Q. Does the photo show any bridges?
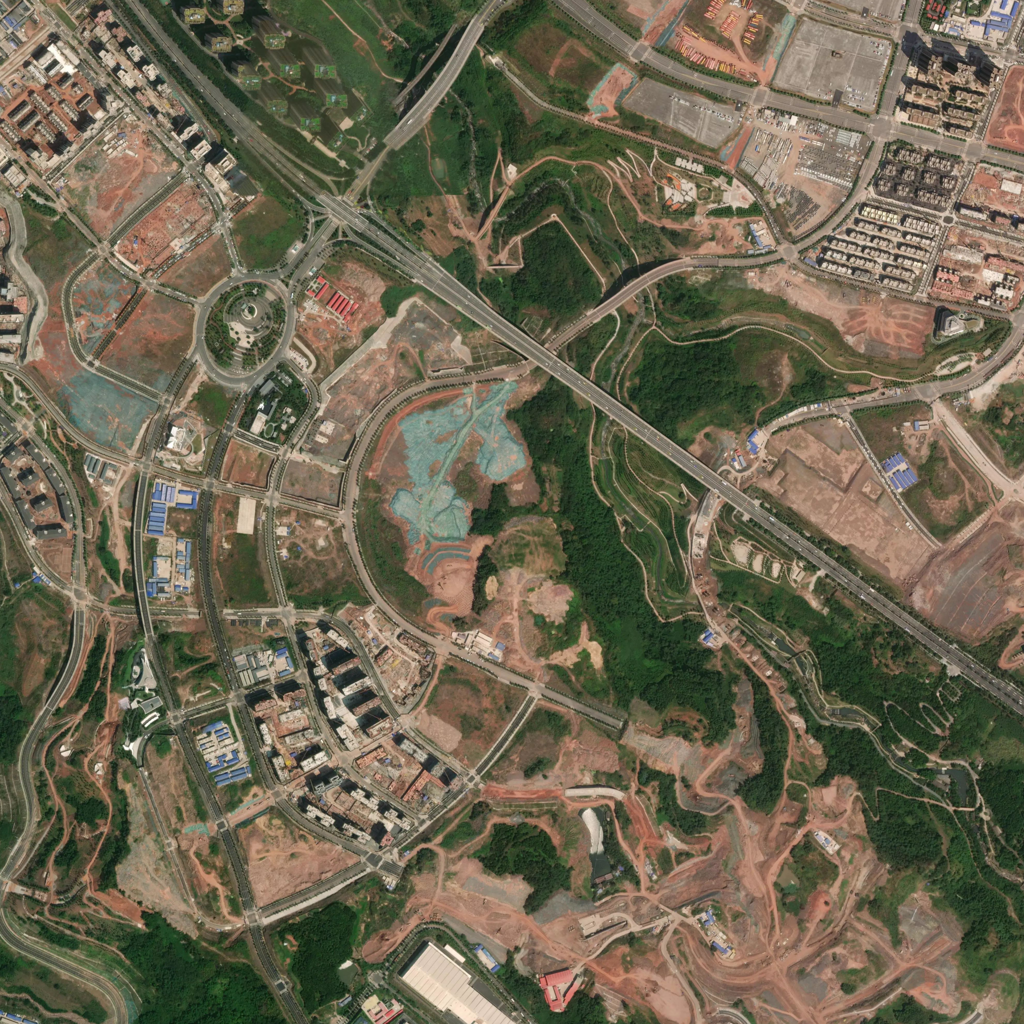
Yes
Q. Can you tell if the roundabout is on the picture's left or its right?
left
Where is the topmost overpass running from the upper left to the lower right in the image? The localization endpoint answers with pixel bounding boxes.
[314,186,370,236]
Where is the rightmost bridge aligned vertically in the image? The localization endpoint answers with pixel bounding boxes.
[132,465,154,633]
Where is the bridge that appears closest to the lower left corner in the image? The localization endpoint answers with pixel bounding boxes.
[40,593,86,721]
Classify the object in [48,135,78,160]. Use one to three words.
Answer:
building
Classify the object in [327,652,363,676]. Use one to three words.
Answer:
building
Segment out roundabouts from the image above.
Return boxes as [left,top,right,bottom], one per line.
[195,271,296,385]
